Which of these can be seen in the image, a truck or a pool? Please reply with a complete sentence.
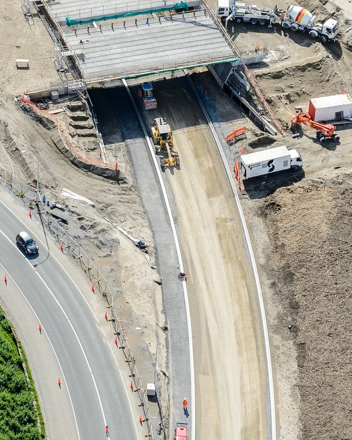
Looking from above, you can make out a truck.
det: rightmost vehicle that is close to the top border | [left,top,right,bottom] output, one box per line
[283,0,337,38]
